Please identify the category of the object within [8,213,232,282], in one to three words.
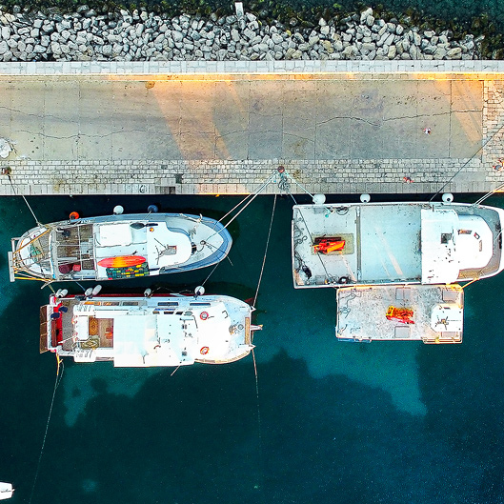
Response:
boat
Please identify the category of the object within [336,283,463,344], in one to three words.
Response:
ship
